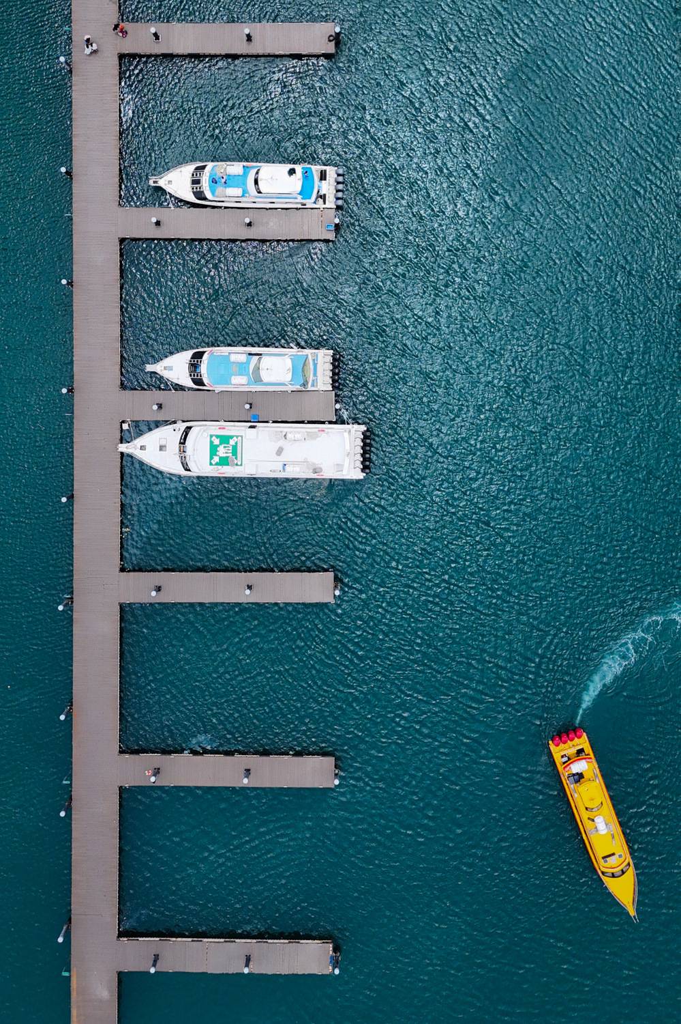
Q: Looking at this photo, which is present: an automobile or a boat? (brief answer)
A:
boat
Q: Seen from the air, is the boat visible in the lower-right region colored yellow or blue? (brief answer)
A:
yellow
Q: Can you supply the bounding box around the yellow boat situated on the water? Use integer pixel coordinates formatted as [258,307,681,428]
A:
[548,724,639,922]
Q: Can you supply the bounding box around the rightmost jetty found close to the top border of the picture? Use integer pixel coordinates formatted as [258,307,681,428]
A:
[119,23,336,60]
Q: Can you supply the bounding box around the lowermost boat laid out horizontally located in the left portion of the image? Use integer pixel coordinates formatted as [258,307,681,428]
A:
[116,421,371,479]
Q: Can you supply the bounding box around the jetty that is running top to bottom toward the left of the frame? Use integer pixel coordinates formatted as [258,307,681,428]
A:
[70,0,125,1024]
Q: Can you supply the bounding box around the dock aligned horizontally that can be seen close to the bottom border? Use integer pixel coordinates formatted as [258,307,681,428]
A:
[118,931,332,974]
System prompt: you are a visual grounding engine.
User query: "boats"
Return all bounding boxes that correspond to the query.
[548,724,639,922]
[116,421,371,479]
[146,343,340,392]
[149,162,344,209]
